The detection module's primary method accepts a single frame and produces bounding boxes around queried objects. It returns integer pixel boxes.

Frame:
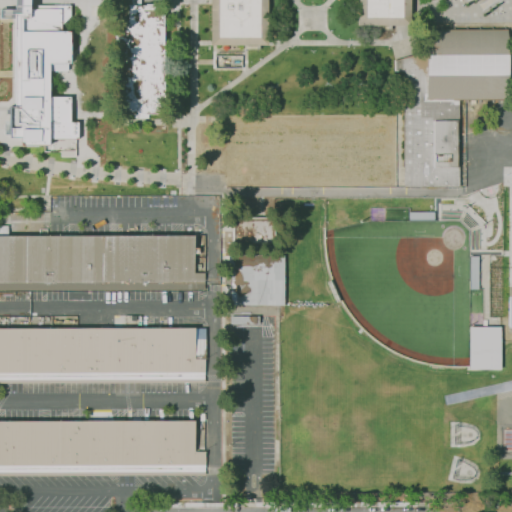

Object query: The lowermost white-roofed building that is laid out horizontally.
[0,420,206,472]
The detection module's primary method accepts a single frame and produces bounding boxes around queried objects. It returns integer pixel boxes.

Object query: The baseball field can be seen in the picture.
[323,221,470,370]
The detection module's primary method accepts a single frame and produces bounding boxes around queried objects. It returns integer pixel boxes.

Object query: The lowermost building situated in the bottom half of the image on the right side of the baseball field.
[470,326,503,370]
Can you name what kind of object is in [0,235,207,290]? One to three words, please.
building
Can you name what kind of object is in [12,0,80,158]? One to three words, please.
building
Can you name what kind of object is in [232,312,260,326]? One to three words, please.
shed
